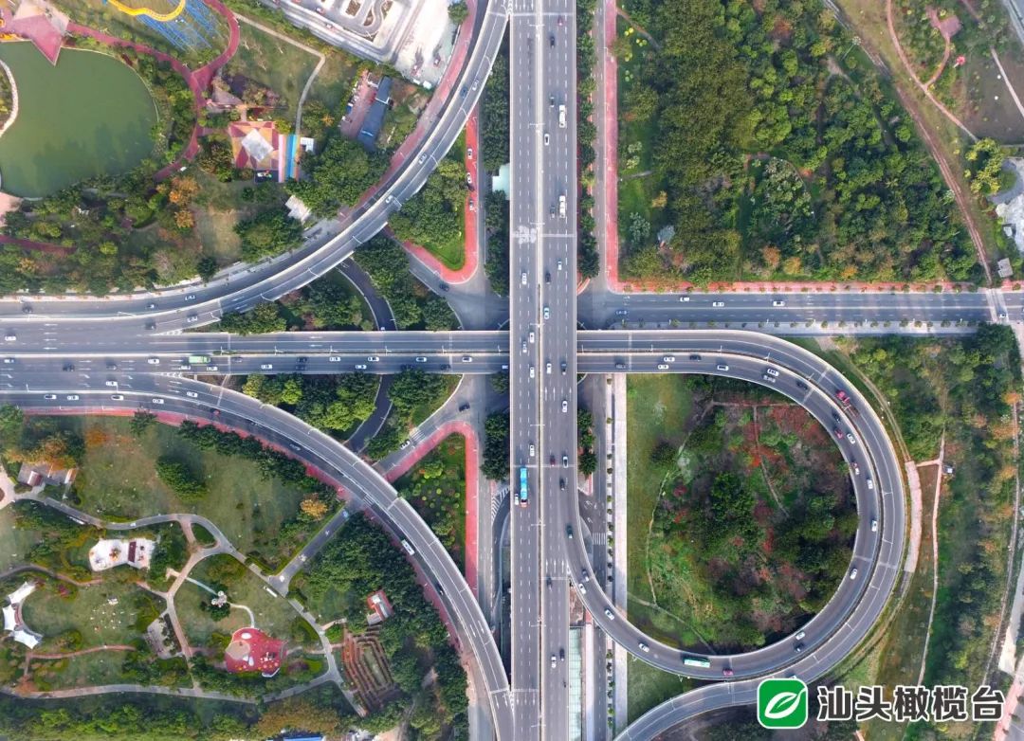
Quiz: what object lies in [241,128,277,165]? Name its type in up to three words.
building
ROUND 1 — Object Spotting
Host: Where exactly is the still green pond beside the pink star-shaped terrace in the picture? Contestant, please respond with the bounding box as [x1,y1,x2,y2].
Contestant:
[0,39,160,196]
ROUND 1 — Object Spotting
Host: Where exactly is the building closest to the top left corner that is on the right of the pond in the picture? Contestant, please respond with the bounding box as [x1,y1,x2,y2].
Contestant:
[207,89,245,112]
